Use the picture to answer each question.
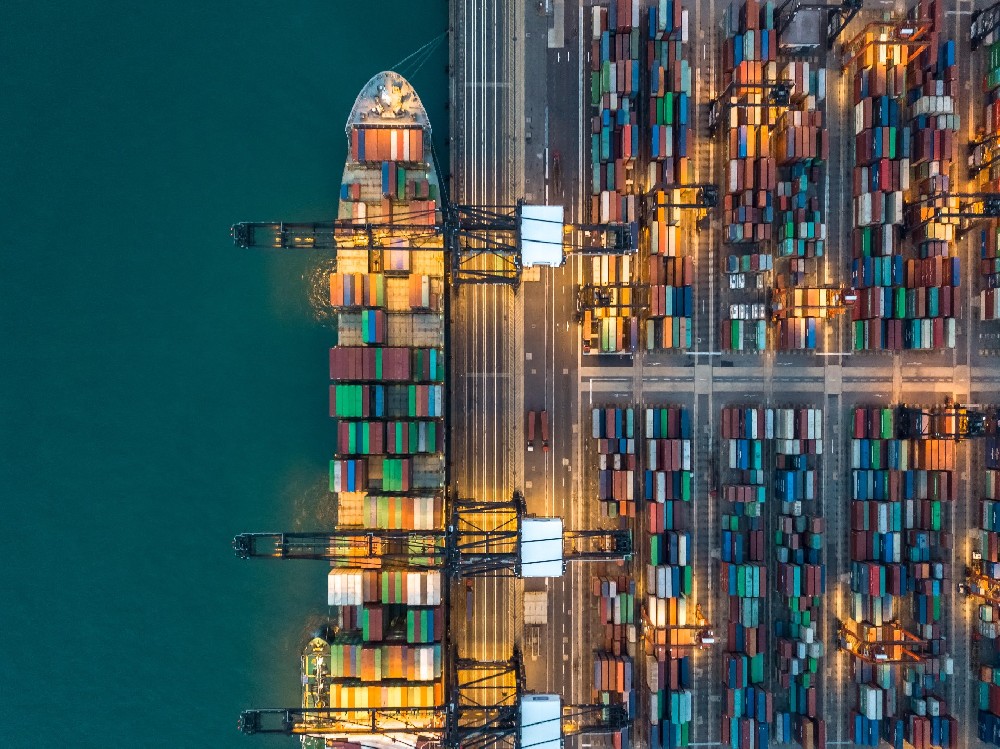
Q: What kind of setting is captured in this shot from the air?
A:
port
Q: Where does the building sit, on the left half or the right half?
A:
right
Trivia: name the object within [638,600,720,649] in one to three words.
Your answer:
crane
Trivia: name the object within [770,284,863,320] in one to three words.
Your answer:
crane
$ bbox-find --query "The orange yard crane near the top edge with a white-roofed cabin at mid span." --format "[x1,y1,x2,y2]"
[841,18,936,74]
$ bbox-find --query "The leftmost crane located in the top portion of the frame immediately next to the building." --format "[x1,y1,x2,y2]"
[710,81,801,136]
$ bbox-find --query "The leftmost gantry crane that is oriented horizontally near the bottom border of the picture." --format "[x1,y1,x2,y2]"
[229,629,641,749]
